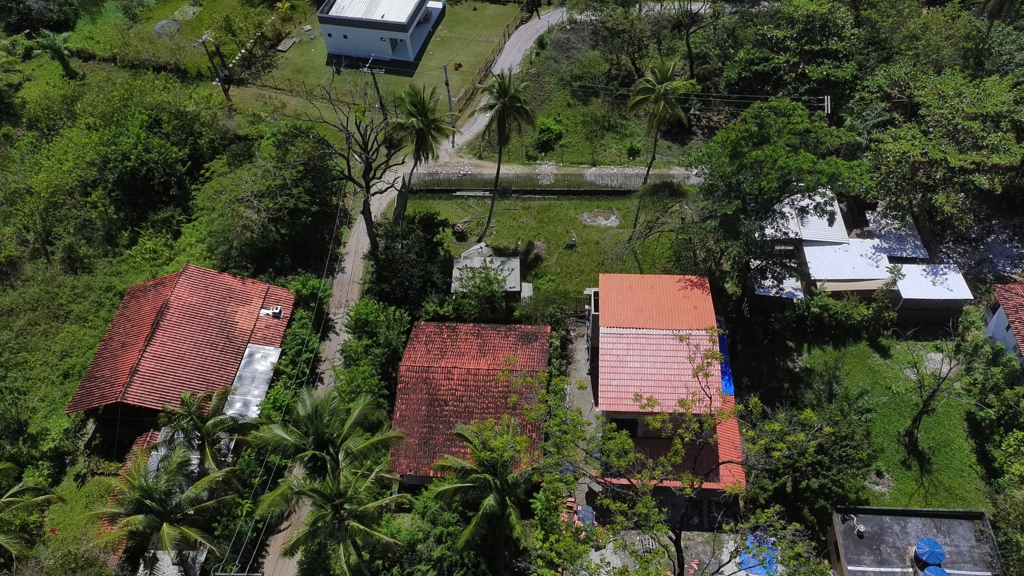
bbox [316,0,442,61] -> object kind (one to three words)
house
